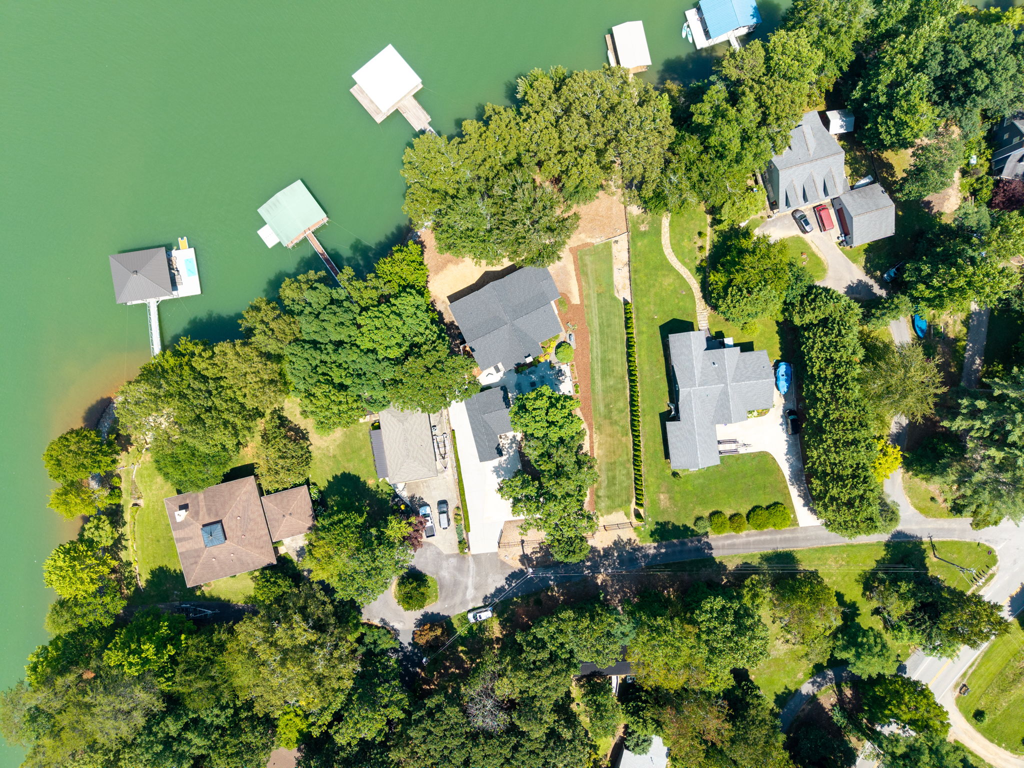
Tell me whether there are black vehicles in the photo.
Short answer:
Yes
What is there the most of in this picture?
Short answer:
trees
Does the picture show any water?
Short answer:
Yes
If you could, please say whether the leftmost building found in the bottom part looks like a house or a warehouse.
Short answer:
house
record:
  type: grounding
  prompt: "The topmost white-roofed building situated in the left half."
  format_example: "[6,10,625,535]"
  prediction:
[349,44,423,124]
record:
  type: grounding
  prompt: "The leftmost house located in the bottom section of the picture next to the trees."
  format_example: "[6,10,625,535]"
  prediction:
[164,475,279,588]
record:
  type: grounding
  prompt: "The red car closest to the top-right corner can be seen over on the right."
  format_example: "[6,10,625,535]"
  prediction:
[814,203,835,233]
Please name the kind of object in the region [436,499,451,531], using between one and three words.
car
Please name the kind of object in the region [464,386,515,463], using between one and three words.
building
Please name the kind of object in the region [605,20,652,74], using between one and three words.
building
